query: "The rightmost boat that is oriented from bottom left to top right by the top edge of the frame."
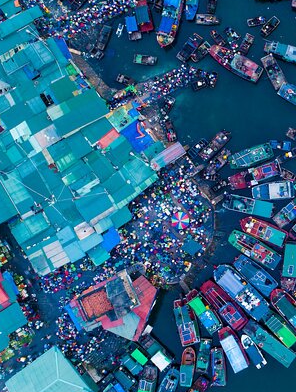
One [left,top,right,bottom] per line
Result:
[260,15,280,36]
